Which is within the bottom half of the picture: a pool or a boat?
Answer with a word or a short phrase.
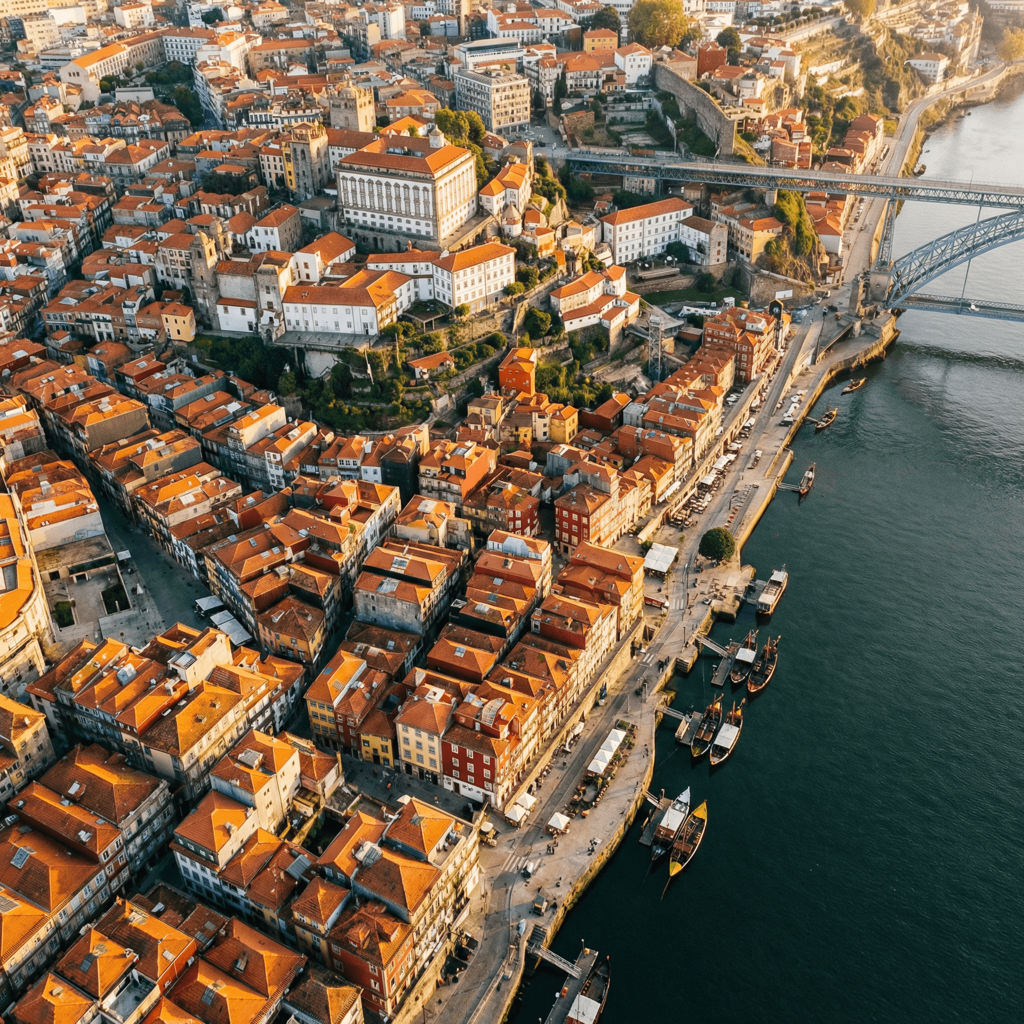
boat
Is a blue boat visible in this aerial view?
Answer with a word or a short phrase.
No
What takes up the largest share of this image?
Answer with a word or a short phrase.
buildings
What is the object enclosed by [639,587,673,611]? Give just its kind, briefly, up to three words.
truck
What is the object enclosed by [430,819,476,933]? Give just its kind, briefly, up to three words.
house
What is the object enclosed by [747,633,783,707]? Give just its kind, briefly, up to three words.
boat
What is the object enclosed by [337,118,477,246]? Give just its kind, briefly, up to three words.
building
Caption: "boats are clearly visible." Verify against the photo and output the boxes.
[756,563,789,616]
[747,633,783,707]
[662,796,709,905]
[564,952,612,1024]
[814,406,838,431]
[728,620,761,704]
[644,782,692,889]
[703,692,747,790]
[798,459,818,497]
[687,688,726,781]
